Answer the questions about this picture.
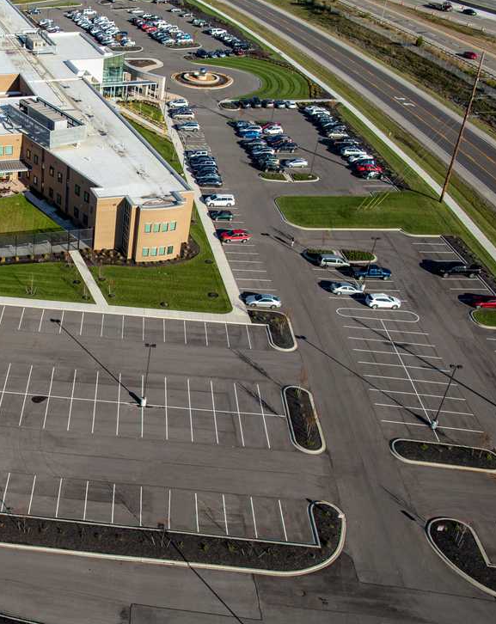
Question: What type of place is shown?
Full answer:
This image shows a parking lot.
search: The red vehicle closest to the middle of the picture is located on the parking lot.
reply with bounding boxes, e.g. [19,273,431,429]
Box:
[219,228,251,243]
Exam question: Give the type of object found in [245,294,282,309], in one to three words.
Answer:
car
